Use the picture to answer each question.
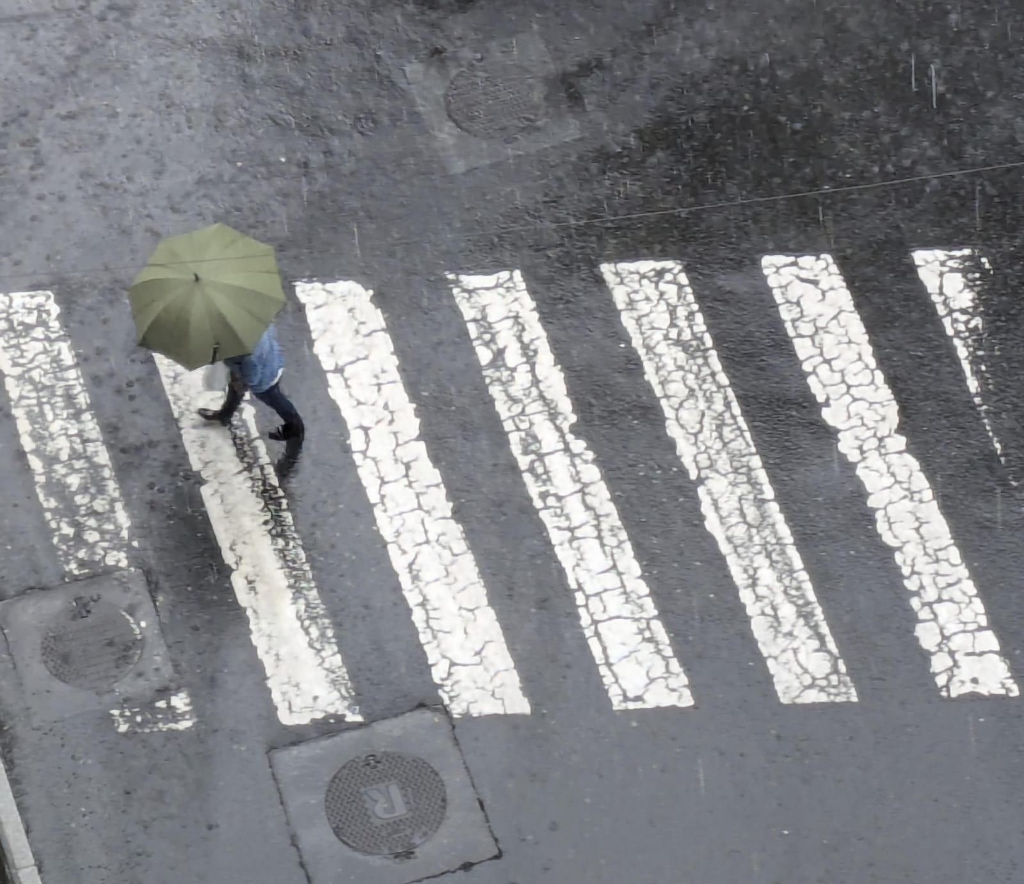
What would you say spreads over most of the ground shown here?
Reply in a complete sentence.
The bulk of the photo consists of paved ground.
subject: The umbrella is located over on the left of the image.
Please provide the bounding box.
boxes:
[128,220,288,376]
